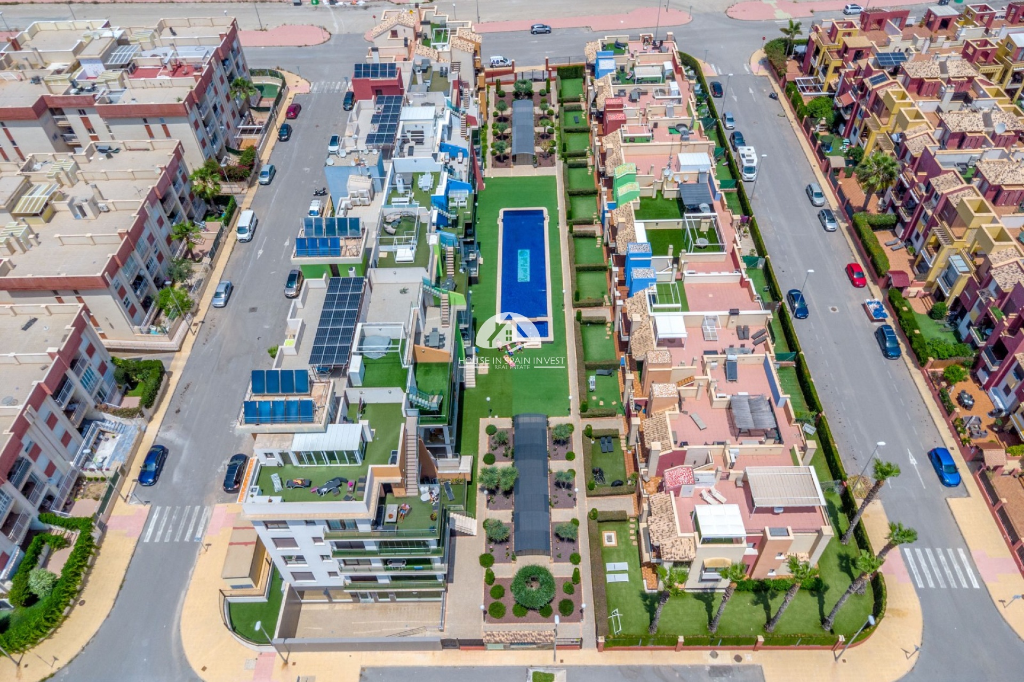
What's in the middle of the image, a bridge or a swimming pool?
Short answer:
swimming pool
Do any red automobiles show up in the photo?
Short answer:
Yes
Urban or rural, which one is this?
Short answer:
urban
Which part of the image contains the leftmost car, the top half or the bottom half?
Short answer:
bottom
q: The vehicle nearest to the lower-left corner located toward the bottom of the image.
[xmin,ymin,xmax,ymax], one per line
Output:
[136,443,167,484]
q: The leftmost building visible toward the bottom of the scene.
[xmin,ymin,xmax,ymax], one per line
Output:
[0,304,121,591]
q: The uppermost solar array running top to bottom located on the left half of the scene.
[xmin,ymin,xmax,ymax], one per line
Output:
[362,88,402,155]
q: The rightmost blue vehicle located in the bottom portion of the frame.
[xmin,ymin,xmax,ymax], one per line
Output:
[928,446,961,486]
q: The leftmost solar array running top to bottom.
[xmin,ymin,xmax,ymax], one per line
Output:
[309,276,365,367]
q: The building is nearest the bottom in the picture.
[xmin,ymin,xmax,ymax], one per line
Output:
[443,626,580,649]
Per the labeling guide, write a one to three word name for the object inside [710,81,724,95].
car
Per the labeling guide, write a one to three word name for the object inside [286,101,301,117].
car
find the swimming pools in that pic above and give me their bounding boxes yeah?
[494,206,556,348]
